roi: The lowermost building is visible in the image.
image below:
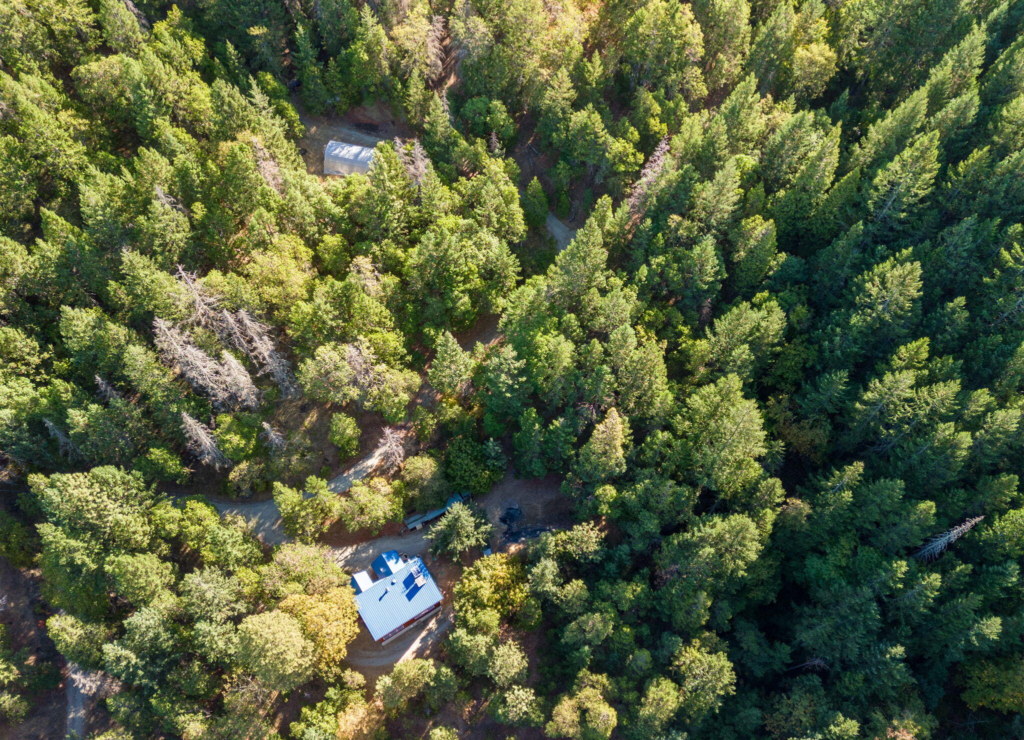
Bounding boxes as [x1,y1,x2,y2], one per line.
[343,550,445,645]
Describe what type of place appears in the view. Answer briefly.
forest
